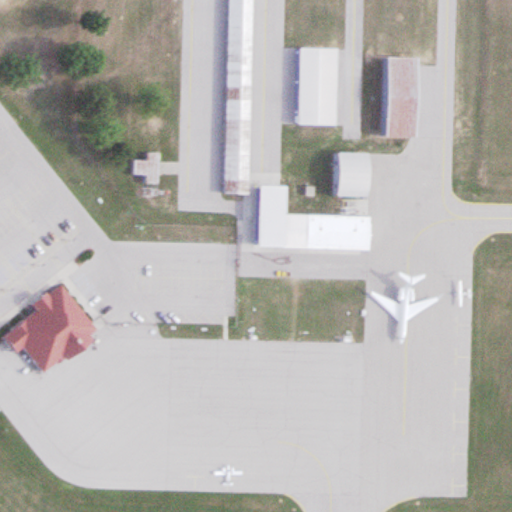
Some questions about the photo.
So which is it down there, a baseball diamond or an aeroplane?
aeroplane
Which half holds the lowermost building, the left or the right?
left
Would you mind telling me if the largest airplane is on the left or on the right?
right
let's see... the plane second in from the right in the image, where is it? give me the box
[370,271,440,344]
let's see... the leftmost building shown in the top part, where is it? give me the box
[132,152,161,185]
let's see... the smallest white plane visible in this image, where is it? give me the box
[454,280,473,307]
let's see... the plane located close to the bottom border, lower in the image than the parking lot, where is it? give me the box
[214,464,243,486]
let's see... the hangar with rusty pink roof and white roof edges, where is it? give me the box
[380,58,420,138]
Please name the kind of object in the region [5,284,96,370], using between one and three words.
building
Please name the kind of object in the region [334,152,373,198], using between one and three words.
hangar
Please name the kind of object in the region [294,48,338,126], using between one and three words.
hangar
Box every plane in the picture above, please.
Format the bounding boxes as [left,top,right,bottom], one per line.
[370,271,440,344]
[454,280,473,307]
[214,464,243,486]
